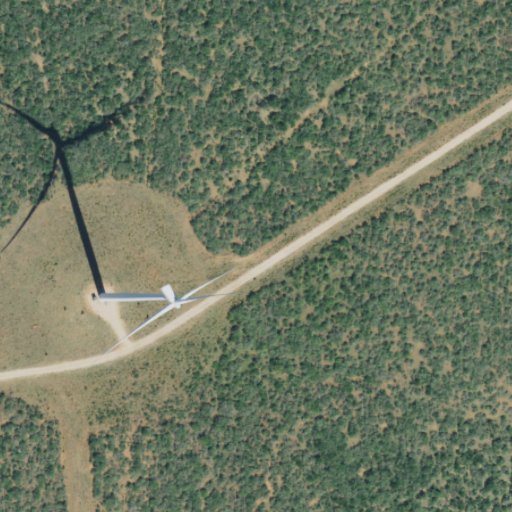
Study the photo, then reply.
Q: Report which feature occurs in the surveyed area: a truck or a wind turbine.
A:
wind turbine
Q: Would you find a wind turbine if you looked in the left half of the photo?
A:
Yes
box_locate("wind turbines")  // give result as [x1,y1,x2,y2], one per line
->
[96,266,240,362]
